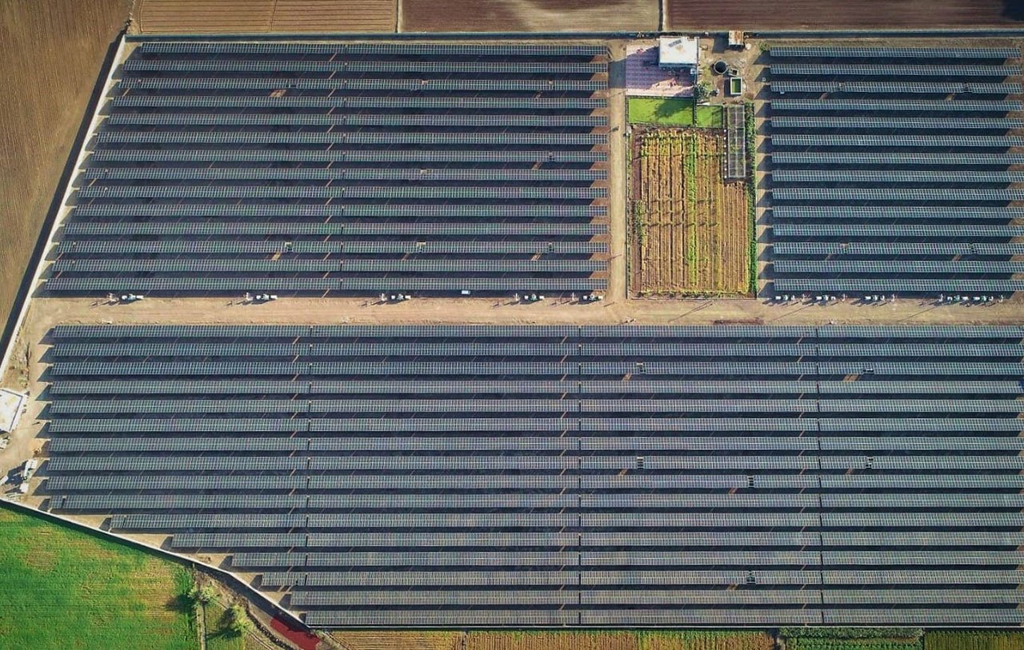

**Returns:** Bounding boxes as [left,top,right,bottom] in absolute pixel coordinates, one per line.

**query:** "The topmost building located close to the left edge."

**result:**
[0,387,28,433]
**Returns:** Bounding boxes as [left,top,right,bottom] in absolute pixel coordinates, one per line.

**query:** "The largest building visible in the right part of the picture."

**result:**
[658,37,699,72]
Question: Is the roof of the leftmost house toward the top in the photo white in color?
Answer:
Yes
